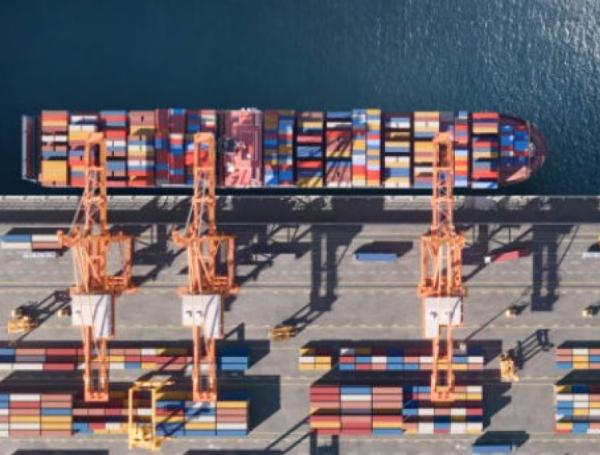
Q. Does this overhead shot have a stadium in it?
No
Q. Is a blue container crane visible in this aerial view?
No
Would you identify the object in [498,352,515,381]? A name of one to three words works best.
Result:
work vehicle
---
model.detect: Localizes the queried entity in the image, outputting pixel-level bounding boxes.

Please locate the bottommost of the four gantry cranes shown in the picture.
[128,377,172,447]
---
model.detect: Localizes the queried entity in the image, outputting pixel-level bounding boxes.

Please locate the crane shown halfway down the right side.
[411,134,471,402]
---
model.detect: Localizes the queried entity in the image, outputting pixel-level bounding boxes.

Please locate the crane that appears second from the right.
[176,134,248,402]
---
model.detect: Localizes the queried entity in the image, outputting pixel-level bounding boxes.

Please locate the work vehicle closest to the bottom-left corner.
[9,316,40,331]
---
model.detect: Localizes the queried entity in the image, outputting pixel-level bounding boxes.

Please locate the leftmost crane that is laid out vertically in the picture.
[59,134,148,402]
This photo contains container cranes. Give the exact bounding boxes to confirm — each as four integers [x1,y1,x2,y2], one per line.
[176,134,248,402]
[128,377,172,447]
[411,134,471,402]
[59,134,148,402]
